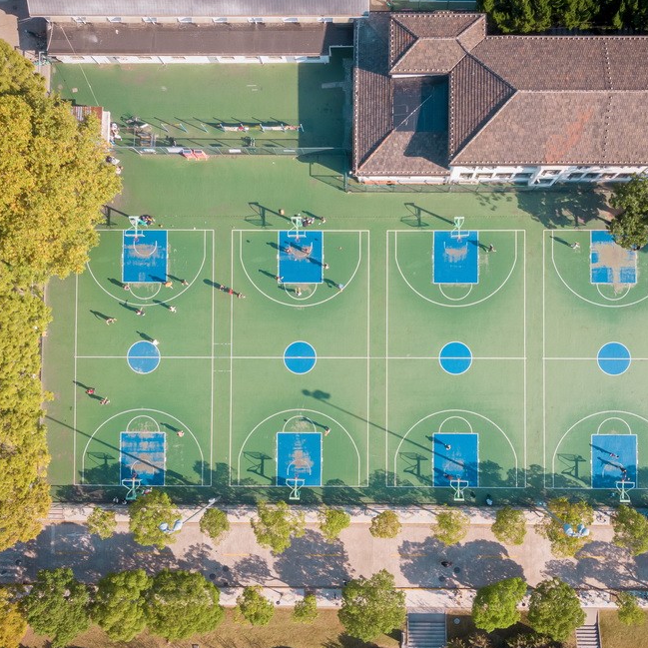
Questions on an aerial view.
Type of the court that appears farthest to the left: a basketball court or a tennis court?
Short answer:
basketball court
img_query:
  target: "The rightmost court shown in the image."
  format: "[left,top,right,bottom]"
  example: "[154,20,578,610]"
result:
[541,227,648,491]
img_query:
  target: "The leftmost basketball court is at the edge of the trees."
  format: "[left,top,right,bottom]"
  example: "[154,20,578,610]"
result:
[71,226,218,491]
